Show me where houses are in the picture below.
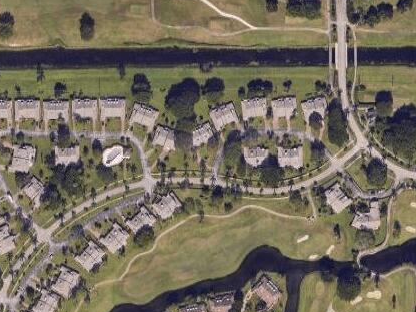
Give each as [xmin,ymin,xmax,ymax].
[51,267,81,295]
[244,148,269,165]
[33,290,62,312]
[0,101,13,120]
[209,293,233,312]
[0,225,20,253]
[153,192,184,217]
[101,223,128,255]
[43,101,69,119]
[241,99,268,119]
[210,103,240,130]
[154,125,177,148]
[189,122,216,149]
[254,278,282,306]
[55,147,80,163]
[21,177,48,201]
[271,99,297,117]
[301,99,329,123]
[325,182,354,210]
[16,101,41,120]
[180,305,206,312]
[129,102,159,129]
[11,145,37,172]
[72,100,98,119]
[127,205,158,231]
[278,148,304,167]
[75,243,104,274]
[100,99,125,118]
